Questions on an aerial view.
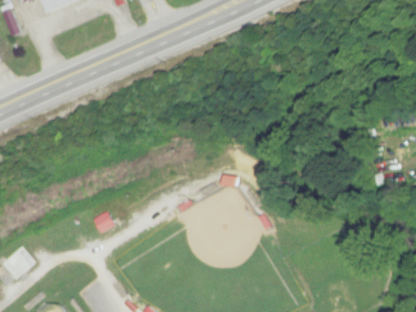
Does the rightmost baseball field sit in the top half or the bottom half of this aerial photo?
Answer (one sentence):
The rightmost baseball field sits in the bottom half of the picture.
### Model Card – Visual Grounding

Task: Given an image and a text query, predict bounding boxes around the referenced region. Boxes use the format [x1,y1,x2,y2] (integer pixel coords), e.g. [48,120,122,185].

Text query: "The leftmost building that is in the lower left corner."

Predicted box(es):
[3,246,37,280]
